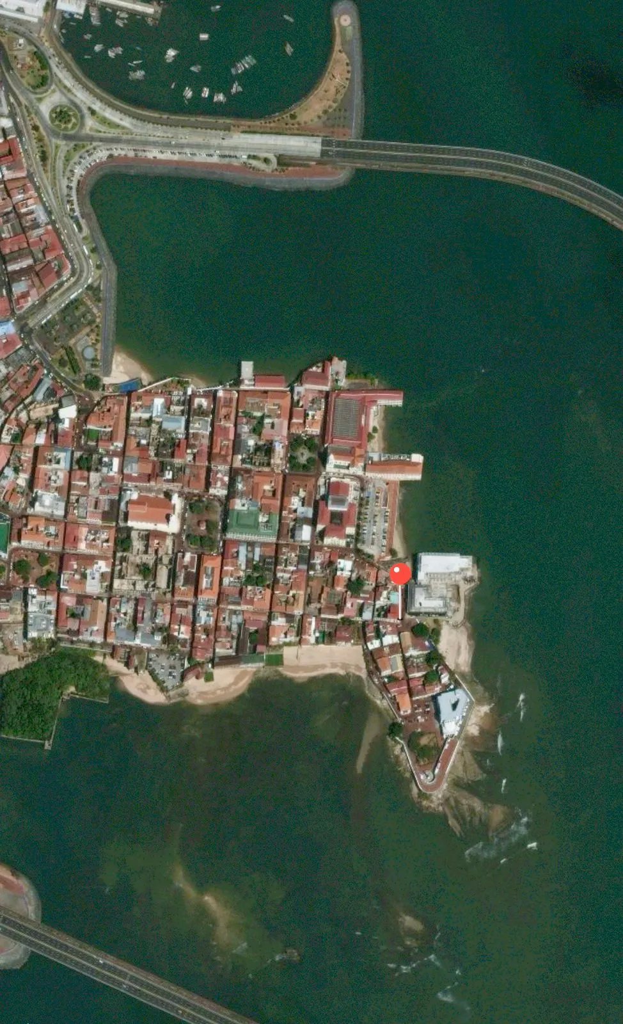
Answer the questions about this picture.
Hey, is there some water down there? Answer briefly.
Yes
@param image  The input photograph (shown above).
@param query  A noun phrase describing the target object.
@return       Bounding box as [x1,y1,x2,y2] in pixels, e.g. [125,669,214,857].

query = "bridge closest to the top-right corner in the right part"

[320,140,623,229]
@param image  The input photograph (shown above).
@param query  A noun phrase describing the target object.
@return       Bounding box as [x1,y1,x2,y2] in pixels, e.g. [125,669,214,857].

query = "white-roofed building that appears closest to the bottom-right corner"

[438,689,470,743]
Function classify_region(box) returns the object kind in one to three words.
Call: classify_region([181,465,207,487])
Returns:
house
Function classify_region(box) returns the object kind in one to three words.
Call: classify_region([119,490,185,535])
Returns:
building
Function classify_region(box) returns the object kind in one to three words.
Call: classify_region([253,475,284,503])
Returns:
house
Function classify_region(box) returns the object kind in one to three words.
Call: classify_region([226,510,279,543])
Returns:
building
